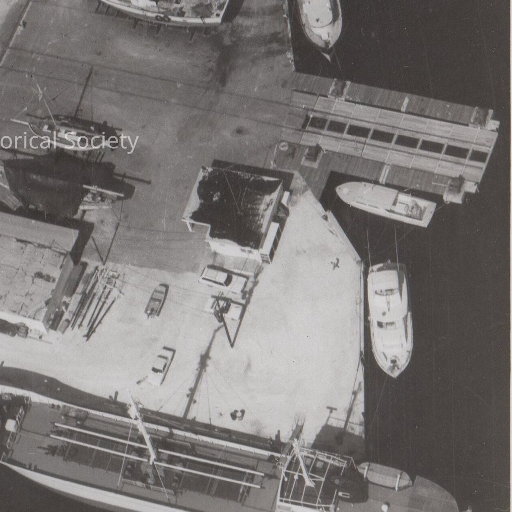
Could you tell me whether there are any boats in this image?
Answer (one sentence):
Yes, a boat can be made out from above.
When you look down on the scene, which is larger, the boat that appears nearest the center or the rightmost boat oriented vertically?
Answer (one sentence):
The rightmost boat oriented vertically is larger than the boat that appears nearest the center.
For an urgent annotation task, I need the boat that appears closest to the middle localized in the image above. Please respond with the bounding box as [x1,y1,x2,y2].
[144,284,169,319]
